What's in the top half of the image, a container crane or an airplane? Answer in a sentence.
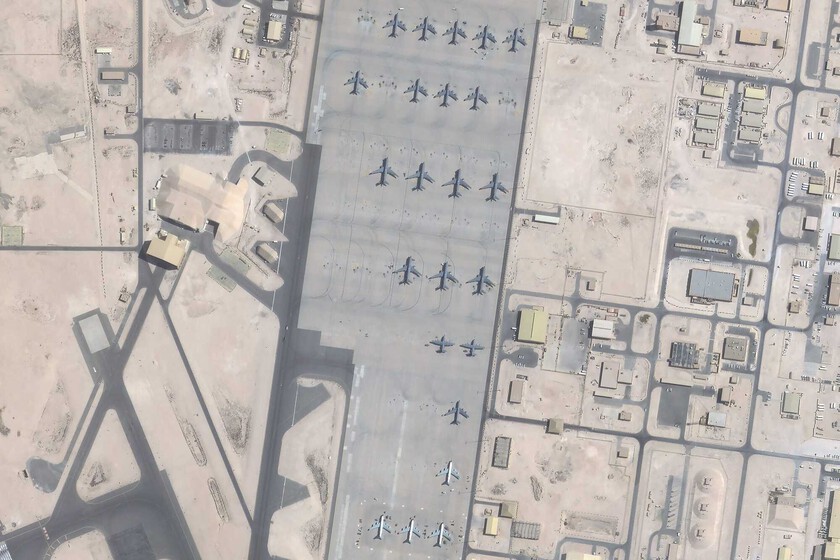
It is an airplane that can be seen in the top half of the image.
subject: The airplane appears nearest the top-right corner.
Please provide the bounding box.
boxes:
[503,29,527,52]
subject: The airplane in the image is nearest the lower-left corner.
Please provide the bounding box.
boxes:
[368,516,393,540]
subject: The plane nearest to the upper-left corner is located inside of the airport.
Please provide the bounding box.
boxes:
[345,71,368,95]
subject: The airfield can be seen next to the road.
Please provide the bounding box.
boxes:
[0,0,541,560]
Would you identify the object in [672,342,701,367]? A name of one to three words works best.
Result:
building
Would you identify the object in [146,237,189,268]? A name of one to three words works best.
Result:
hangar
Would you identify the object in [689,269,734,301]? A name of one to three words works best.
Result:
building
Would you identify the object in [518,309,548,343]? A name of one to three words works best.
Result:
hangar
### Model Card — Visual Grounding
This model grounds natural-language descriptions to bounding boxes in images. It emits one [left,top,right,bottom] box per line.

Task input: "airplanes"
[442,170,471,198]
[473,25,497,49]
[433,84,458,107]
[445,401,469,426]
[479,173,508,202]
[503,29,527,52]
[413,16,438,40]
[442,20,467,44]
[371,157,399,186]
[463,87,488,111]
[407,162,436,191]
[468,267,496,295]
[394,257,422,285]
[431,262,459,290]
[404,79,428,102]
[436,462,462,486]
[427,522,453,548]
[460,339,486,357]
[368,516,393,540]
[345,71,368,95]
[383,13,408,37]
[399,519,423,544]
[431,335,456,353]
